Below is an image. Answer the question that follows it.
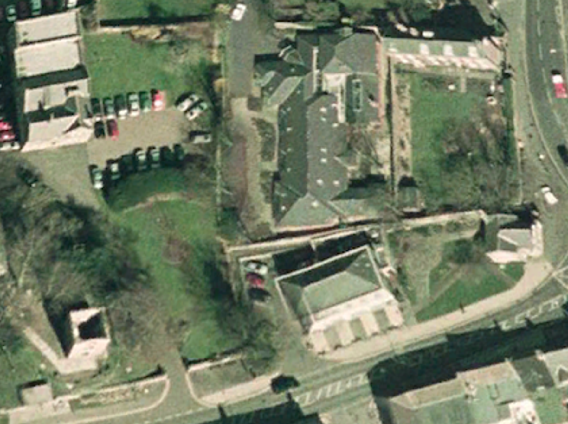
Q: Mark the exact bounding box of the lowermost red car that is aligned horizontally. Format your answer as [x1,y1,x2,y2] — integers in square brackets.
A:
[244,273,266,286]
